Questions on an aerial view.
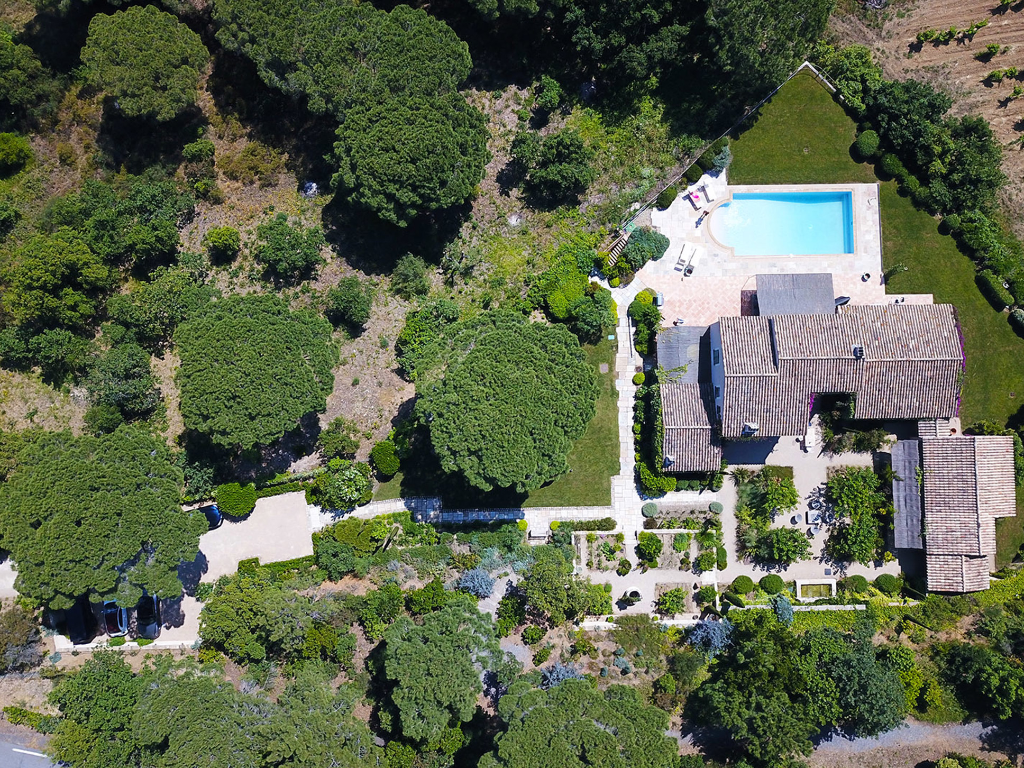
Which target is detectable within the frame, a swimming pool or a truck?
swimming pool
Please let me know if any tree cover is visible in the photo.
Yes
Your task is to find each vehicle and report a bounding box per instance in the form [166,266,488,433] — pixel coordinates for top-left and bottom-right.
[100,601,133,642]
[134,597,164,641]
[178,503,223,533]
[62,585,102,644]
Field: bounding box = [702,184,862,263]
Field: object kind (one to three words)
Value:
swimming pool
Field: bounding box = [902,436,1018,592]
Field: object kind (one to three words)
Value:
shed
